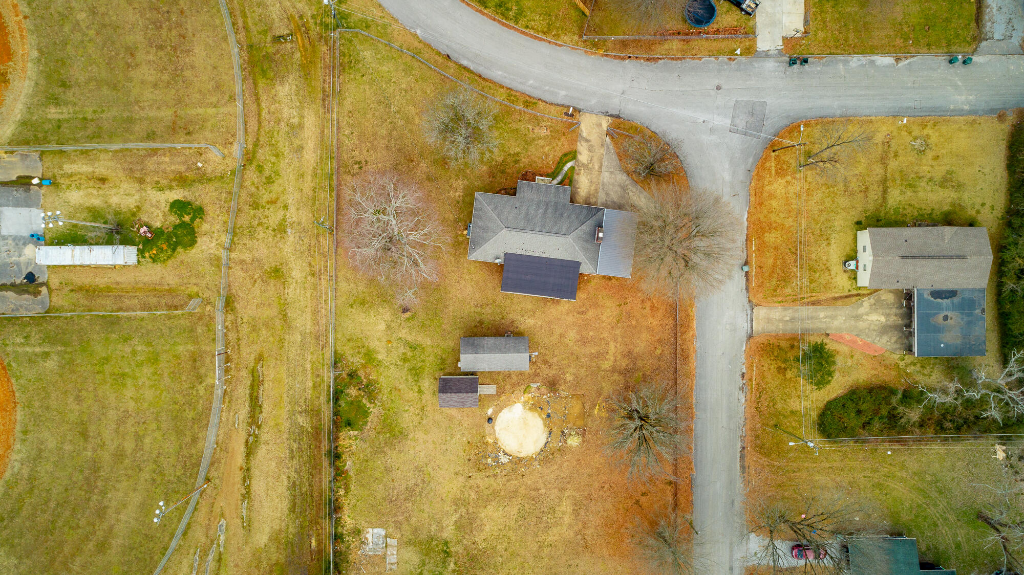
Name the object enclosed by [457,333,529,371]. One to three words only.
shed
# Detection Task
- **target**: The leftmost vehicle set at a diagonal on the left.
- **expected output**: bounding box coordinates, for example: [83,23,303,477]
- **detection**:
[132,221,154,241]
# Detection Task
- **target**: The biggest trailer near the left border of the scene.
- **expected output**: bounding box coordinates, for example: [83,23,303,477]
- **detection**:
[35,245,146,265]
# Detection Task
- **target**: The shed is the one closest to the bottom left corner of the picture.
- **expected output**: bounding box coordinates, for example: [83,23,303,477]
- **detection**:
[439,375,479,408]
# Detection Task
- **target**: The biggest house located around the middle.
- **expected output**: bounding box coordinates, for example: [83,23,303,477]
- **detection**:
[467,175,638,302]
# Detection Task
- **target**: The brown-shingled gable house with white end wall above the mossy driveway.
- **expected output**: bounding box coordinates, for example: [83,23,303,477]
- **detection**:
[857,223,993,289]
